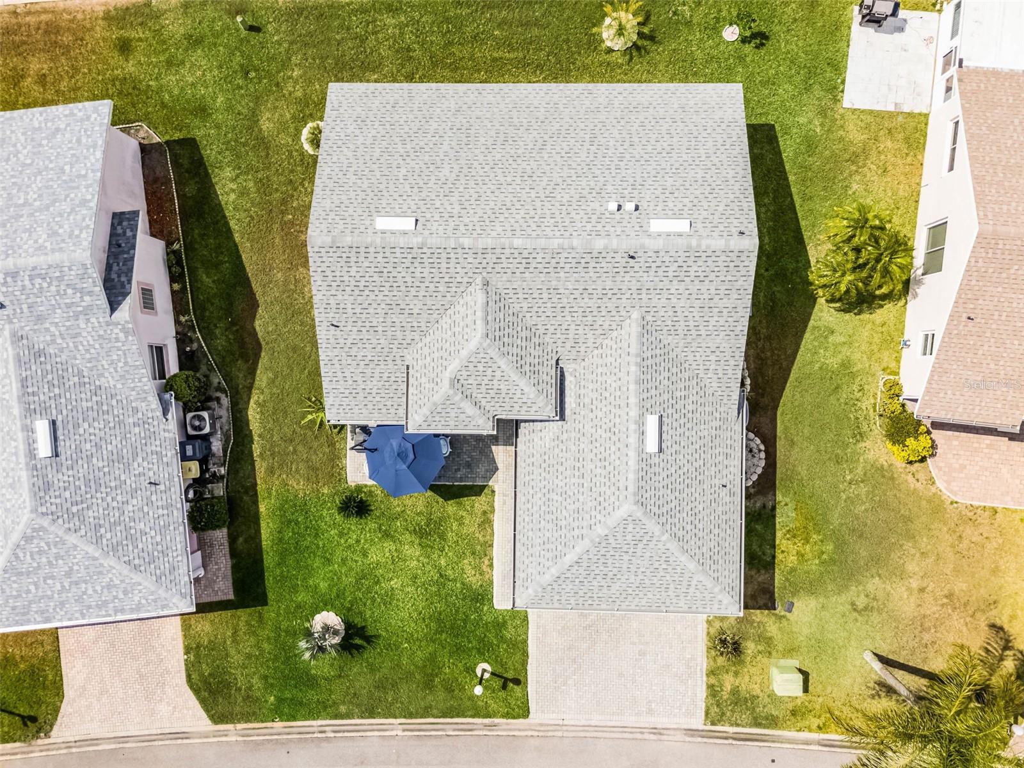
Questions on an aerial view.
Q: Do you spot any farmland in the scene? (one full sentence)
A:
No, no farmland is visible.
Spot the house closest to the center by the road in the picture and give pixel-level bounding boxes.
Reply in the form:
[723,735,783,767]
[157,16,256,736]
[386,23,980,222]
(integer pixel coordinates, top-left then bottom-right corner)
[306,80,760,618]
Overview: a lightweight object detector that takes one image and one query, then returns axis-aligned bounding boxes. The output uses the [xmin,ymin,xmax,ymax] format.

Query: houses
[306,80,760,618]
[0,99,208,633]
[898,0,1024,432]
